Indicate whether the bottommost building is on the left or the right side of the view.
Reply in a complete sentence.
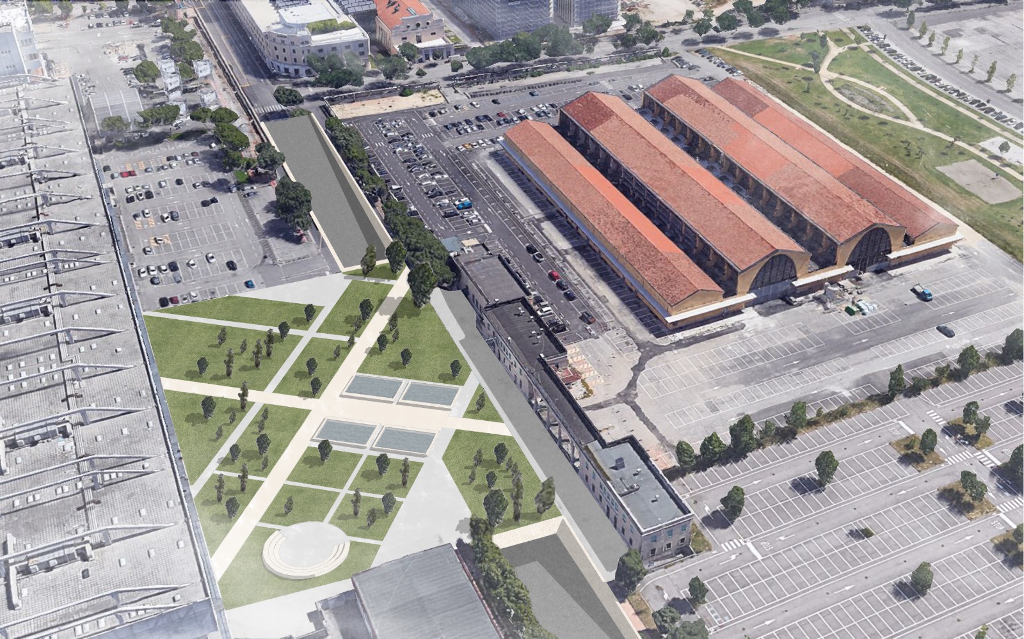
The bottommost building appears in the left half of the scene.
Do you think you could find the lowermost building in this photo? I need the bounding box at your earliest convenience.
[289,596,363,639]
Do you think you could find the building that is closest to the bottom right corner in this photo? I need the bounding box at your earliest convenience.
[579,430,695,565]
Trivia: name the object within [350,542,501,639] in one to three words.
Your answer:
shed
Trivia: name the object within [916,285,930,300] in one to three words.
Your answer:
vehicle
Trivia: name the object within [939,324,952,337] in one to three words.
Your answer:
vehicle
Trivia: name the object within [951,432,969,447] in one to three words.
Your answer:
car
